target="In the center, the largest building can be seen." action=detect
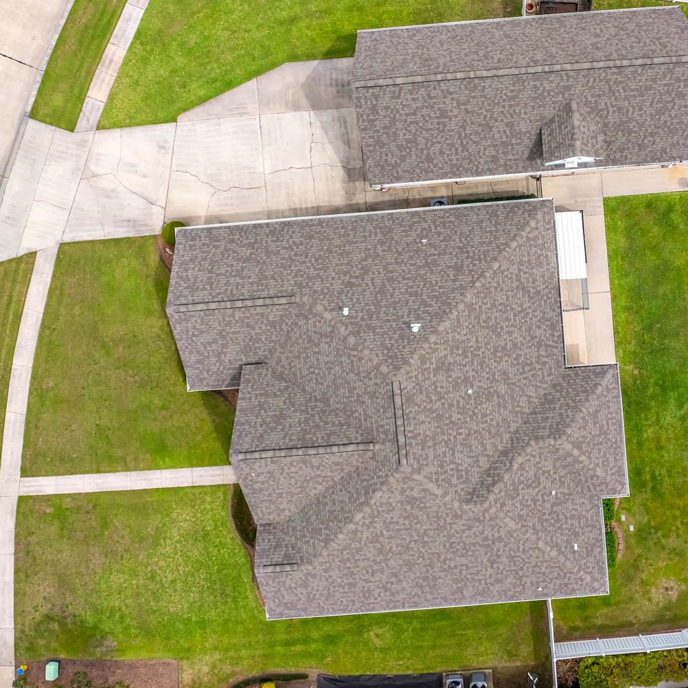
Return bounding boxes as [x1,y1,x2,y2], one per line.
[165,195,632,623]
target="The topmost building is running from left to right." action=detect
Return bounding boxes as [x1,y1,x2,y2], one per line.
[351,2,688,194]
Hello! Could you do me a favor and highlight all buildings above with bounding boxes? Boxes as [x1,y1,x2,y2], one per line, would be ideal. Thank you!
[165,195,632,623]
[351,2,688,194]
